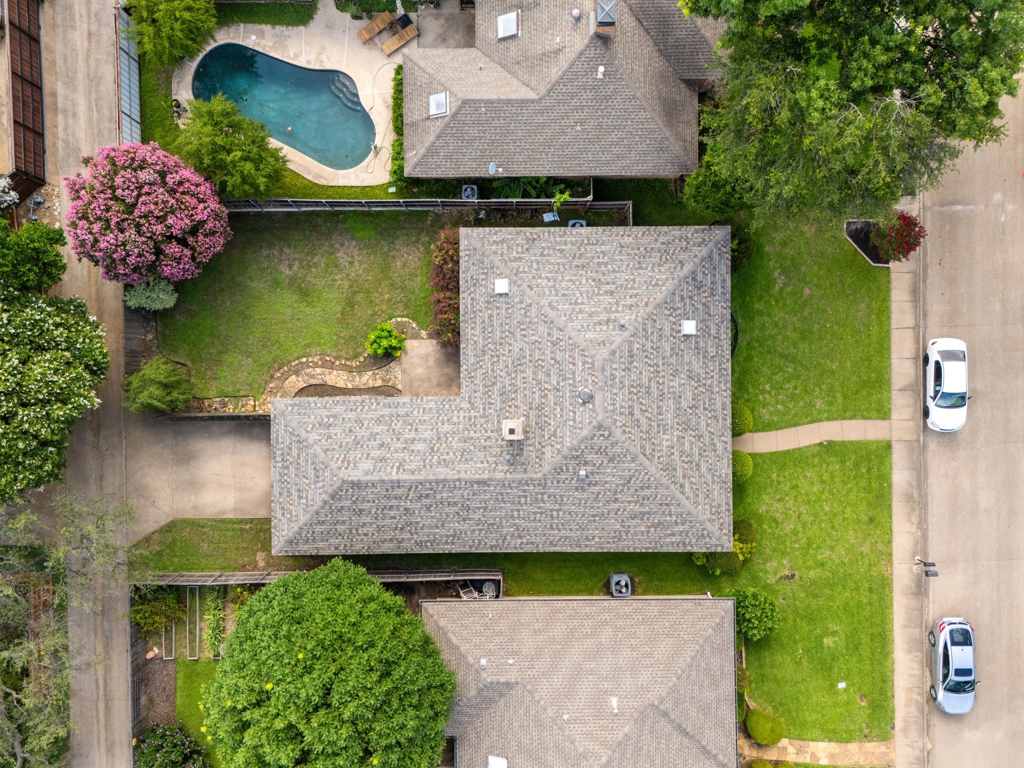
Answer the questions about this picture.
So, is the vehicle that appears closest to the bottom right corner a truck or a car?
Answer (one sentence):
The vehicle that appears closest to the bottom right corner is a car.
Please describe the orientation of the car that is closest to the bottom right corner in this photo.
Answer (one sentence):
The car that is closest to the bottom right corner is laid out up and down.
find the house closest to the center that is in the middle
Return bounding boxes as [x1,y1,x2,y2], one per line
[271,226,733,555]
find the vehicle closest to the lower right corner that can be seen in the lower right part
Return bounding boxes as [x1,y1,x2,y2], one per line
[926,614,981,712]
